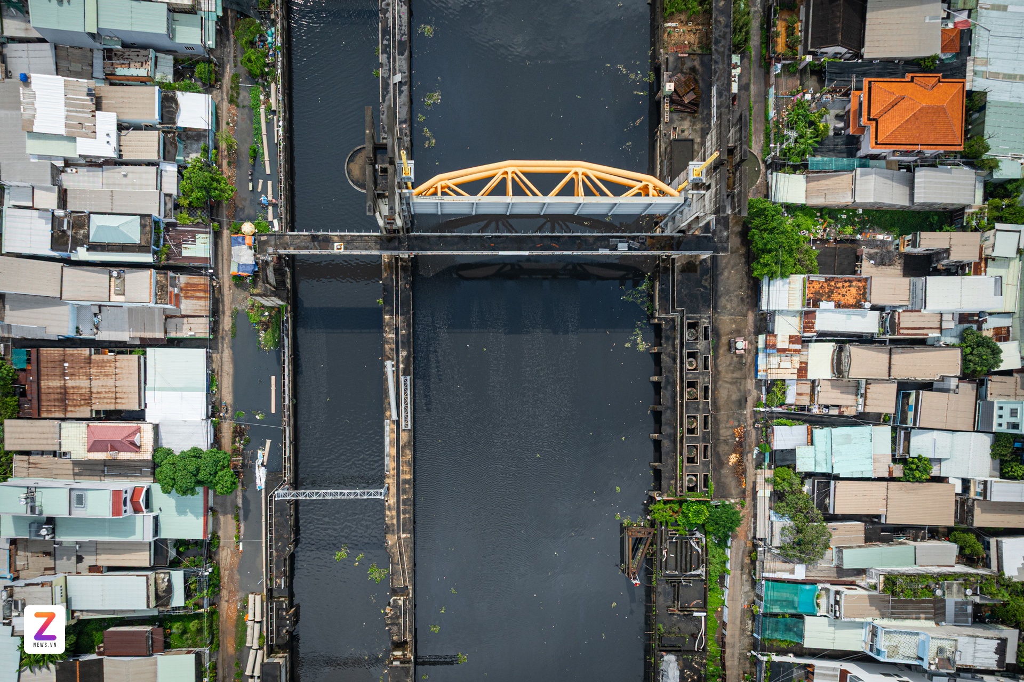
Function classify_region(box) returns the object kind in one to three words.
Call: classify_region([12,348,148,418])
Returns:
house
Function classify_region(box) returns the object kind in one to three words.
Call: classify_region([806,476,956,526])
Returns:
house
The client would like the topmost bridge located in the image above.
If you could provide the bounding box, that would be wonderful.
[256,228,730,262]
